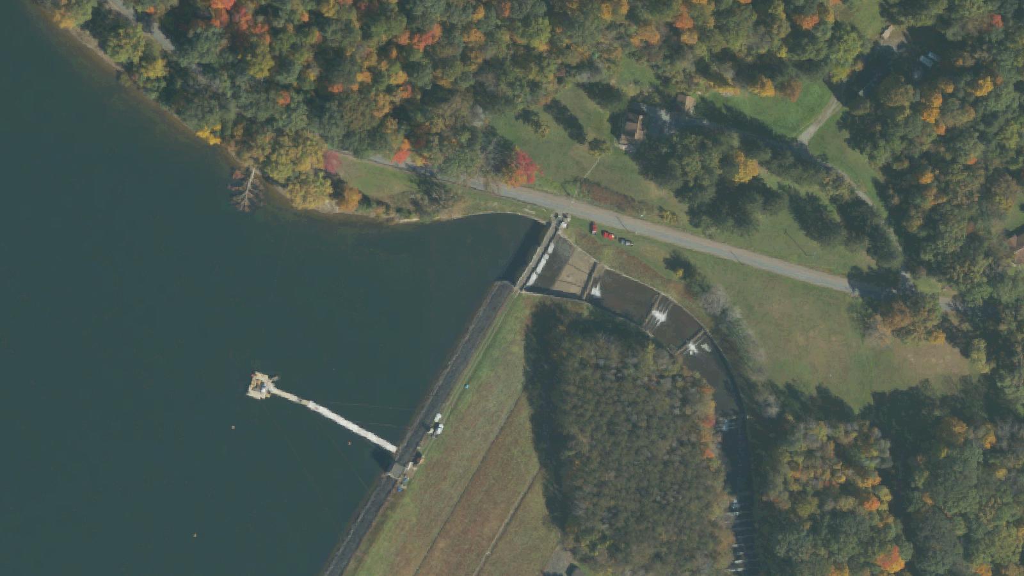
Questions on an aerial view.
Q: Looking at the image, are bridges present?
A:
Yes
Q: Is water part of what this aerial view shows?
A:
Yes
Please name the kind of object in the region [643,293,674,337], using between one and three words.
dam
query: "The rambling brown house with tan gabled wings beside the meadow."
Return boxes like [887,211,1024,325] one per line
[619,116,647,147]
